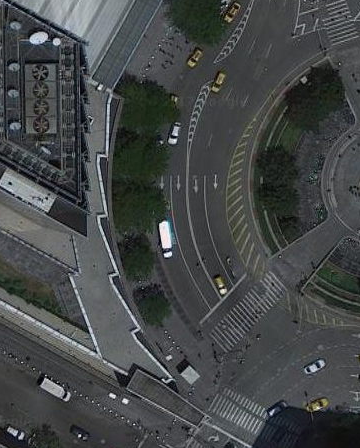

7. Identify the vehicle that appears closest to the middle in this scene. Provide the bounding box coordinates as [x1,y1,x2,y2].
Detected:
[156,218,174,258]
